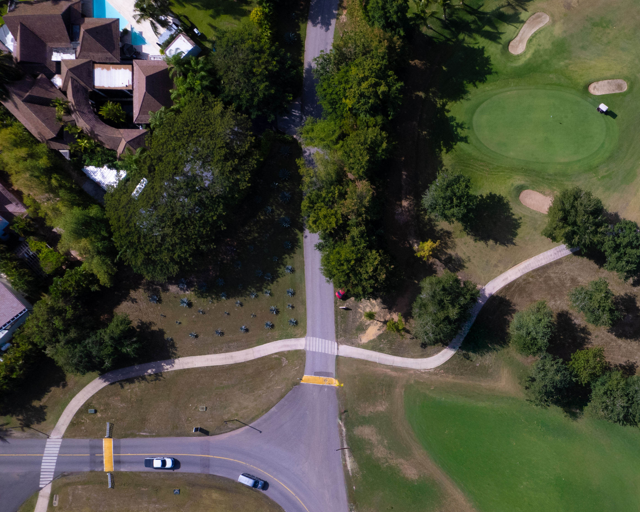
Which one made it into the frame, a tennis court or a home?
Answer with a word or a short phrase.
home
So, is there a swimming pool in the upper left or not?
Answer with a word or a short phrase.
Yes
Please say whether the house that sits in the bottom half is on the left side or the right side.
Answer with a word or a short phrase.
left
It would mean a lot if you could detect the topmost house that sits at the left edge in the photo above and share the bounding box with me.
[0,0,188,154]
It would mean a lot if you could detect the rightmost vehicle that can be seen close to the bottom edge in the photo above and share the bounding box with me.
[236,472,267,491]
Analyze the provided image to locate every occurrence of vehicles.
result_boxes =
[144,457,176,470]
[236,472,267,491]
[596,104,609,117]
[334,285,351,301]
